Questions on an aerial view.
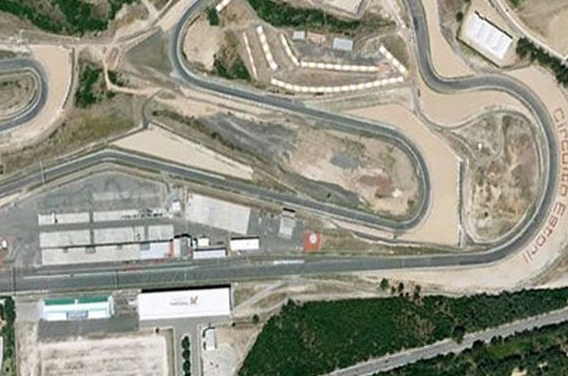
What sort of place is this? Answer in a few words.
sports ground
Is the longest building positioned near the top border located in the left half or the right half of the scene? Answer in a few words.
right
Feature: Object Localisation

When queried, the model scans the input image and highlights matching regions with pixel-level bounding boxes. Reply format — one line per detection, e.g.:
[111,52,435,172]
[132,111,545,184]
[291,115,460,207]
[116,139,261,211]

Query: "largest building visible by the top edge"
[464,15,513,58]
